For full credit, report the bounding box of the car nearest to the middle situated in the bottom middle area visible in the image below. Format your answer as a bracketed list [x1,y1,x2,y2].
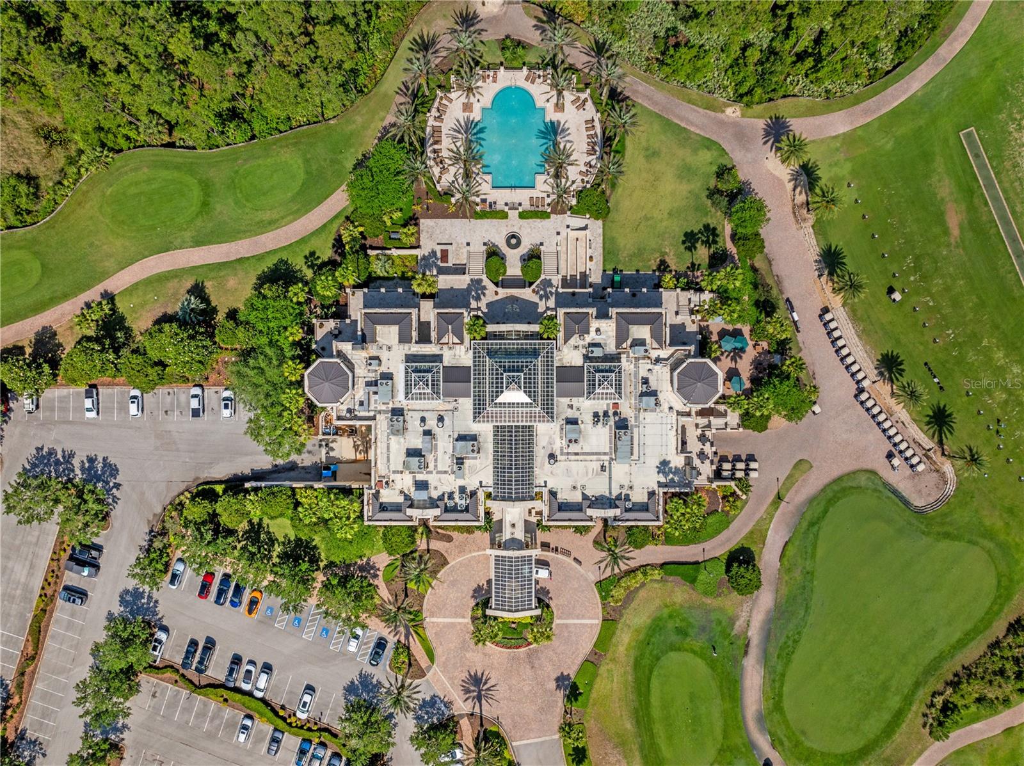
[538,565,555,577]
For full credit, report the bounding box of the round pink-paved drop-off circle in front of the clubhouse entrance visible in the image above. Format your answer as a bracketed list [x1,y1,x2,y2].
[423,550,603,747]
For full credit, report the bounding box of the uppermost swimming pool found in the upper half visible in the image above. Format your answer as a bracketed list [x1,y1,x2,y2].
[424,66,603,211]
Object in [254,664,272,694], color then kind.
white car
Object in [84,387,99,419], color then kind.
white vehicle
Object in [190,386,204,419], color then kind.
white vehicle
